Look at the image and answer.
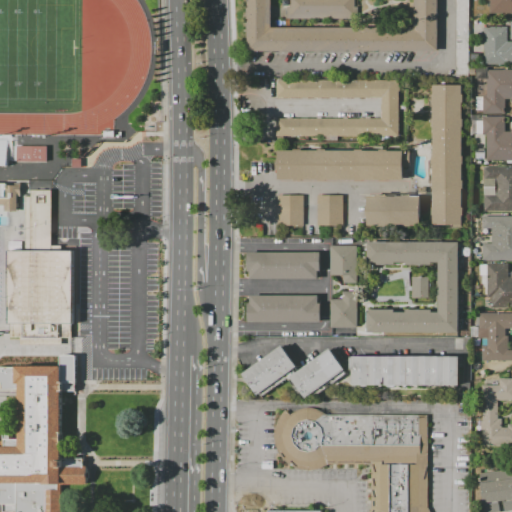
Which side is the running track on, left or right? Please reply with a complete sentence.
The running track is on the left side of the image.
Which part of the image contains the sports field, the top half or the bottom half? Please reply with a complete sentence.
You can find the sports field in the top half.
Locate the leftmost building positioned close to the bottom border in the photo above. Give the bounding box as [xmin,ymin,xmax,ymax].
[0,365,59,512]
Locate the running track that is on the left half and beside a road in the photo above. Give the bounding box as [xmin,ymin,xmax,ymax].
[0,0,152,134]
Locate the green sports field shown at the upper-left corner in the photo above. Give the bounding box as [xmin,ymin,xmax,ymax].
[0,0,82,112]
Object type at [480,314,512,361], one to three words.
house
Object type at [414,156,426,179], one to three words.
swimming pool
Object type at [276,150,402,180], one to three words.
building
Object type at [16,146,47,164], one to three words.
shed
